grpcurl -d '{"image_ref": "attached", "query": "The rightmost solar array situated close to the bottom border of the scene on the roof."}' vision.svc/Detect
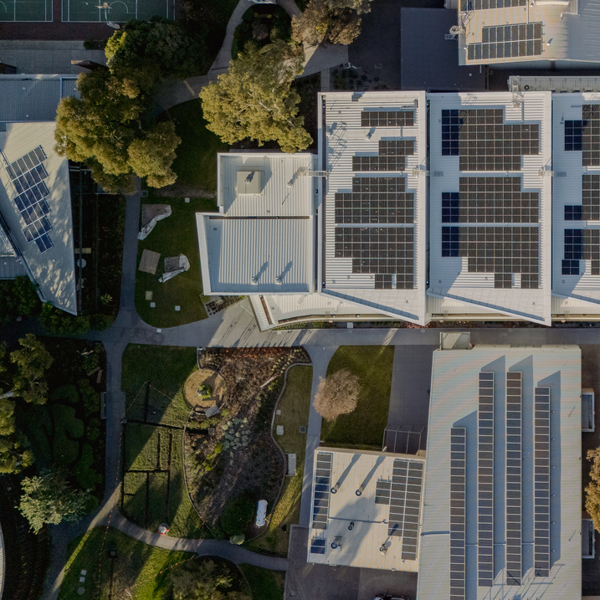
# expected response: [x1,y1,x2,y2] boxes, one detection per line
[535,387,549,576]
